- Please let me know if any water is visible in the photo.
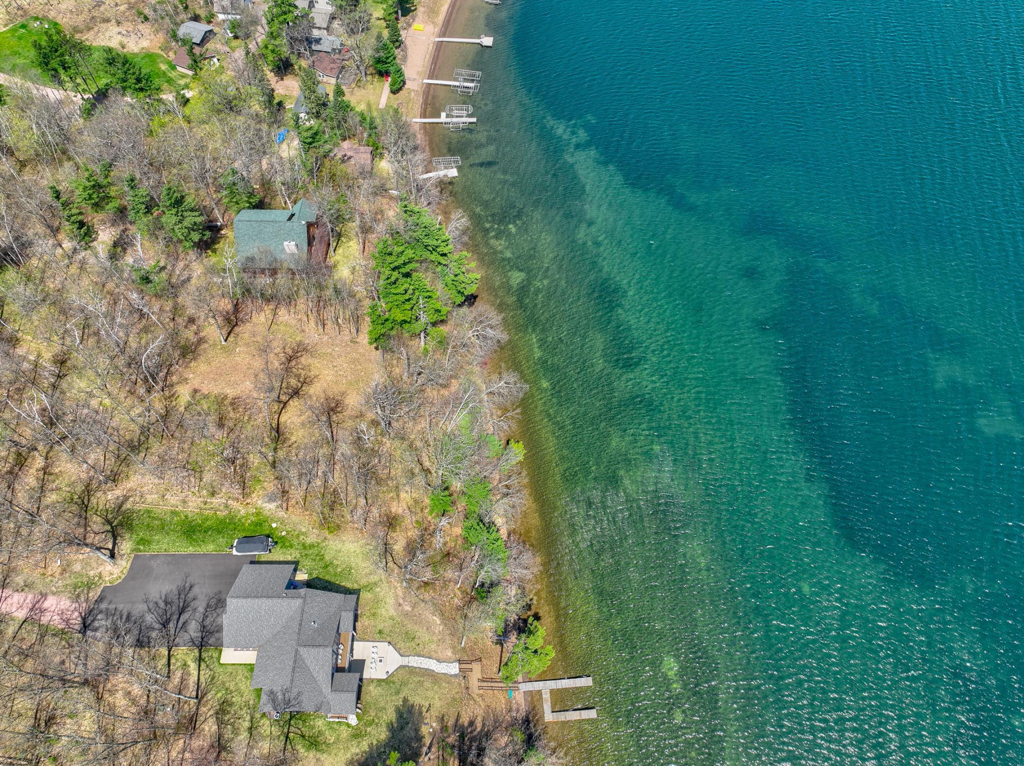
Yes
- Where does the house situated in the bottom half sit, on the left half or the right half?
left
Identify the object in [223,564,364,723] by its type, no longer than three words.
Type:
house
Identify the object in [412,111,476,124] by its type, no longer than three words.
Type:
pier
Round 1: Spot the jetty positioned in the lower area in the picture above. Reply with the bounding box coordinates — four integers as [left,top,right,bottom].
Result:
[519,676,597,723]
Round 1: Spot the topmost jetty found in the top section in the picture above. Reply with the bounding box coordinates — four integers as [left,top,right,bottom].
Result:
[435,36,493,49]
